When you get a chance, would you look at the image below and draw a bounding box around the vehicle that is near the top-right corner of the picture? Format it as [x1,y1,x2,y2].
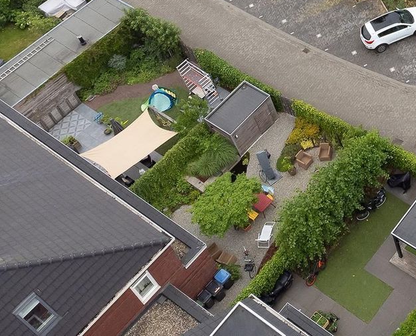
[359,8,416,55]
